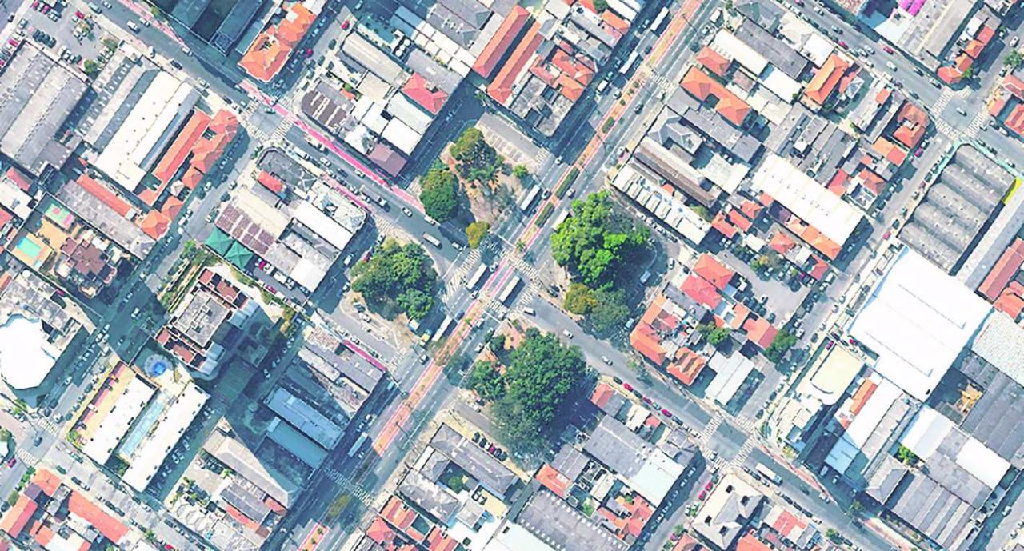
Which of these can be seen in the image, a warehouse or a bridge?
warehouse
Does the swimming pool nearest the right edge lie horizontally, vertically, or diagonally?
diagonally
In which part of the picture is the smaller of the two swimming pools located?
left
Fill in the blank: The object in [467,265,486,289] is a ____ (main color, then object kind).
white vehicle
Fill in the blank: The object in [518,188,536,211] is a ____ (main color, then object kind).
white vehicle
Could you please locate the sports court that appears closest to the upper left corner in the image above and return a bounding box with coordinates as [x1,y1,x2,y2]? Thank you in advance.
[47,201,76,232]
